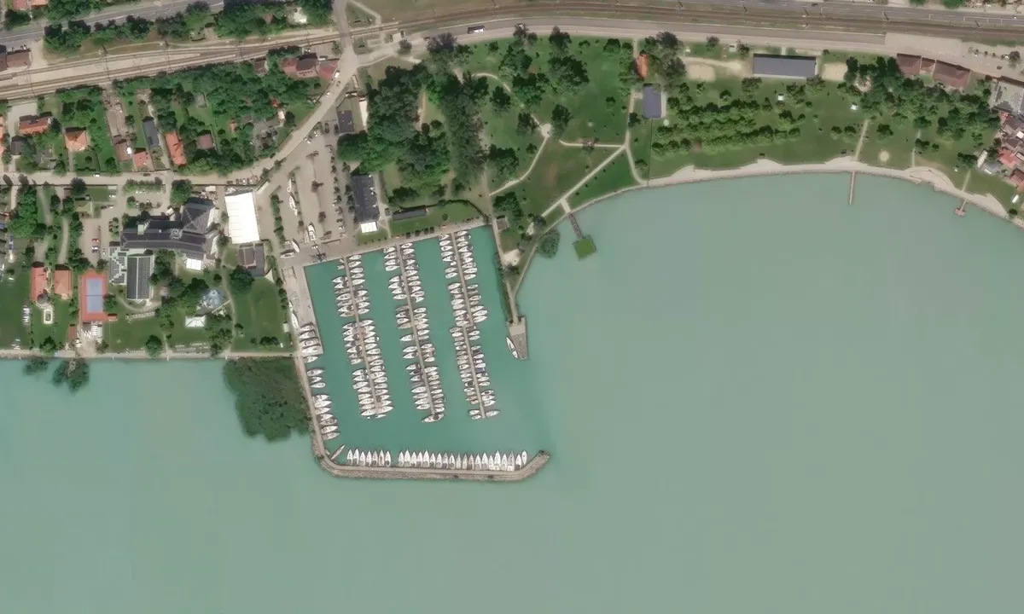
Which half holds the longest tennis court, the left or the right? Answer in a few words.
left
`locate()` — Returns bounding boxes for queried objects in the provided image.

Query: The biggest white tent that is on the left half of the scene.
[225,192,262,244]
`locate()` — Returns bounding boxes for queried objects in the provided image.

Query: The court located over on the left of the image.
[80,271,107,322]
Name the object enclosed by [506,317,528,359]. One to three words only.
pier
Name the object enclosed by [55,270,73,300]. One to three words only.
house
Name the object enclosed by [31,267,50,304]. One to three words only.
house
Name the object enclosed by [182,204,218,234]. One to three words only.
building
